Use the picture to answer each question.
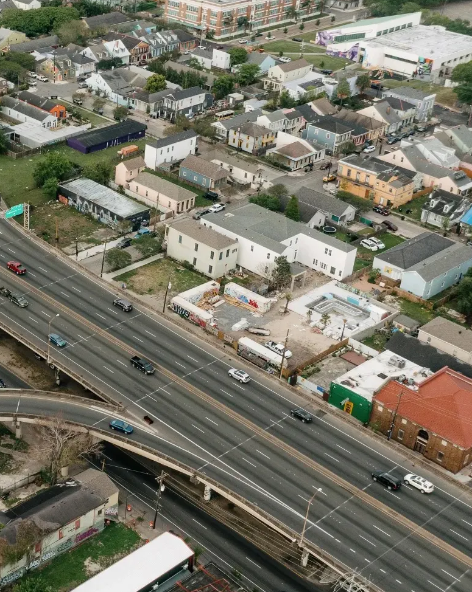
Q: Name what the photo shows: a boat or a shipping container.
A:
shipping container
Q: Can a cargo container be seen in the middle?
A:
Yes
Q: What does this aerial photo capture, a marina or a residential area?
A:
residential area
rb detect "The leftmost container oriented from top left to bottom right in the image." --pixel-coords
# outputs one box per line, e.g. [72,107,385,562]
[170,298,209,334]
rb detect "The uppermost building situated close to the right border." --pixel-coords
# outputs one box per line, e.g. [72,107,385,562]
[307,0,472,84]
